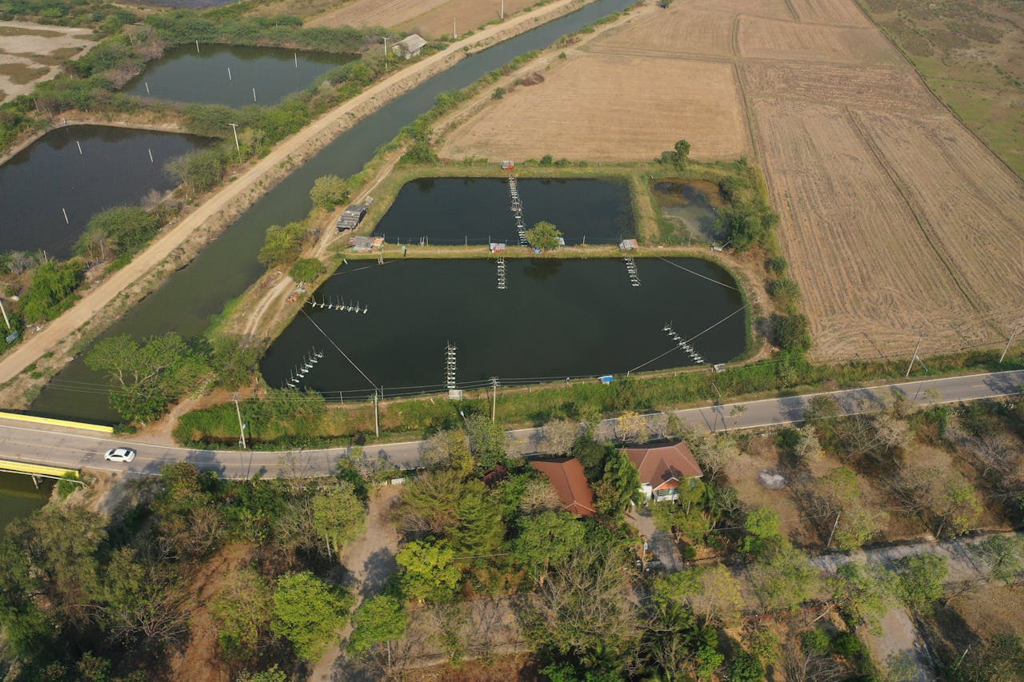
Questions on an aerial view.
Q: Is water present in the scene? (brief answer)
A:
Yes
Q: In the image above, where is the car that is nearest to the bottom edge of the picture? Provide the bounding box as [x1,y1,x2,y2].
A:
[103,449,136,465]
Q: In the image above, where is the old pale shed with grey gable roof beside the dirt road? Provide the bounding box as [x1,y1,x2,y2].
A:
[391,34,427,59]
